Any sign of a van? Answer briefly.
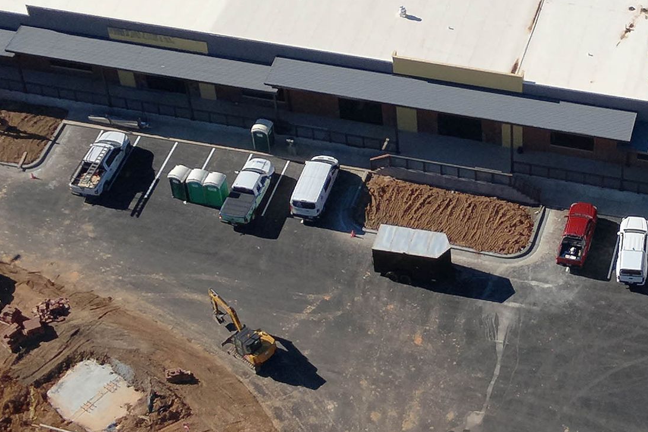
Yes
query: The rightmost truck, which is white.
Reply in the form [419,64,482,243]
[616,217,648,288]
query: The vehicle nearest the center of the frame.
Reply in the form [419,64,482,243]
[292,159,341,219]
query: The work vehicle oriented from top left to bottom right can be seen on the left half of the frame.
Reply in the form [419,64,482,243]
[213,281,283,384]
